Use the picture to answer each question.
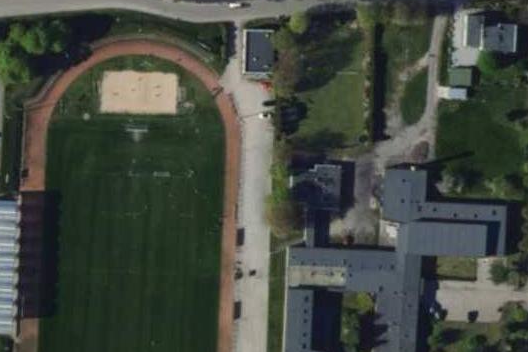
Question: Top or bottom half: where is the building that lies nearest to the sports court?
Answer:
top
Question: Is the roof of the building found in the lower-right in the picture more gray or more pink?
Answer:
gray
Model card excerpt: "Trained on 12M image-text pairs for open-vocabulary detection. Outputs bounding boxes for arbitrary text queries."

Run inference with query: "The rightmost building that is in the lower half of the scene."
[282,165,507,352]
